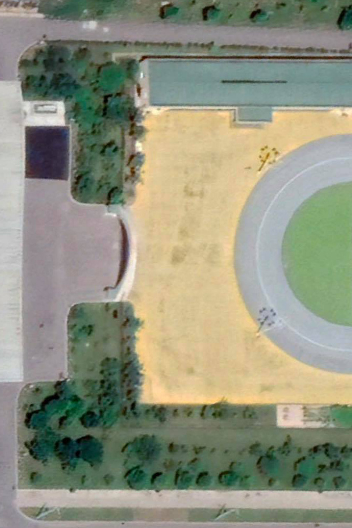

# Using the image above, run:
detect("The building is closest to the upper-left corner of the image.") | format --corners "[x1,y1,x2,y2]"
[21,101,66,127]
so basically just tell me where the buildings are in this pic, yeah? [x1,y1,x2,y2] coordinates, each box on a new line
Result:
[21,101,66,127]
[133,58,352,125]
